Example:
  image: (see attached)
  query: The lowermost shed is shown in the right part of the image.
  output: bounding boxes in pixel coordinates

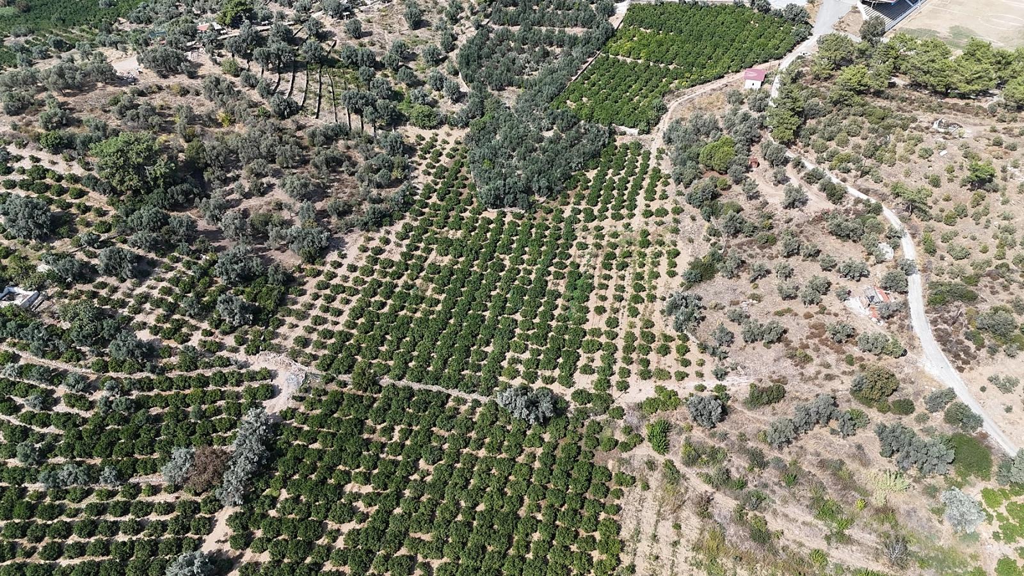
[864,286,888,317]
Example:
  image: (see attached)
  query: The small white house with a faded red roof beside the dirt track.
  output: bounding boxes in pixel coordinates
[744,69,765,90]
